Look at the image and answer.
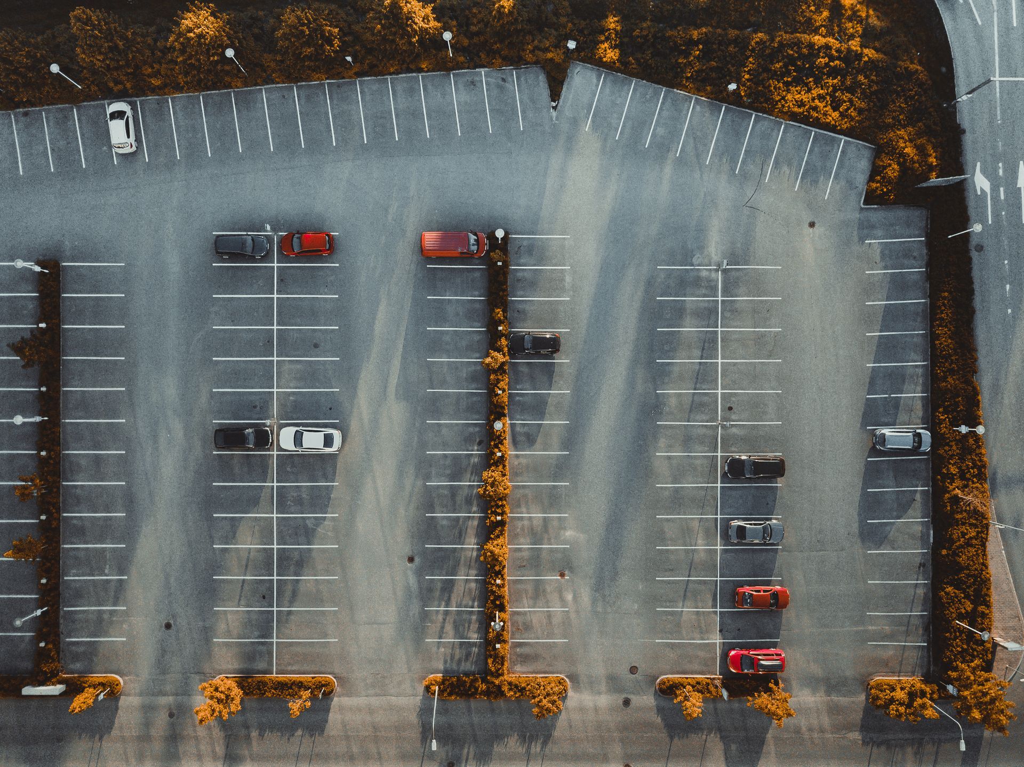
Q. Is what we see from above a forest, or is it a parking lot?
parking lot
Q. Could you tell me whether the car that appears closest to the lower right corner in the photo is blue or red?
red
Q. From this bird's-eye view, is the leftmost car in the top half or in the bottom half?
top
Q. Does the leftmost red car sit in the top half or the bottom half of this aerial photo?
top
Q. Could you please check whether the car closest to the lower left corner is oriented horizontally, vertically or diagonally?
horizontally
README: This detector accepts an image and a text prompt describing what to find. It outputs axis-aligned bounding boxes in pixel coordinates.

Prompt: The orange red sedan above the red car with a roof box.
[734,585,789,612]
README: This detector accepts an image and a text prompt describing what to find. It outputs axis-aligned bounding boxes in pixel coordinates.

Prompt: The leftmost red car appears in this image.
[282,229,335,257]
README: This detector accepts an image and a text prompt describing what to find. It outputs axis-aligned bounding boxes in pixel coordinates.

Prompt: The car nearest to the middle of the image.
[509,330,561,357]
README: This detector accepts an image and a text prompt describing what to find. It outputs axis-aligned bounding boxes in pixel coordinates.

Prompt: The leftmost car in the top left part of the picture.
[106,103,140,156]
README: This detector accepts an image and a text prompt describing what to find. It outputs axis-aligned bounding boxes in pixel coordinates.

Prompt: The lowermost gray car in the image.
[728,520,784,546]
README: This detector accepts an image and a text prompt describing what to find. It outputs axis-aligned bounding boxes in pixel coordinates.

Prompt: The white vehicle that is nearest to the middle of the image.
[280,426,342,454]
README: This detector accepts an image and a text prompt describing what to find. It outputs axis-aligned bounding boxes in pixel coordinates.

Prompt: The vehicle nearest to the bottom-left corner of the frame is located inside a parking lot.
[214,425,273,452]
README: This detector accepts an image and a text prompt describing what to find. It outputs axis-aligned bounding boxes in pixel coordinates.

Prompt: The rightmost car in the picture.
[871,427,930,455]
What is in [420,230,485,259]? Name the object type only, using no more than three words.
van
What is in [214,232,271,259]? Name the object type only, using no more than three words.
car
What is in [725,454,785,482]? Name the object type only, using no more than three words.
car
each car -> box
[280,426,342,454]
[509,330,561,357]
[214,232,271,259]
[734,585,789,612]
[728,520,784,546]
[106,103,140,156]
[282,229,335,257]
[214,425,273,452]
[871,427,930,455]
[725,454,785,482]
